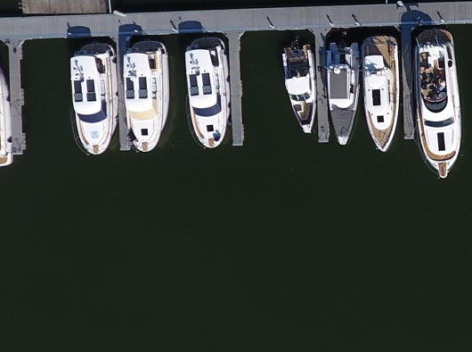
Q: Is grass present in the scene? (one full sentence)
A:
No, grass can't be seen anywhere here.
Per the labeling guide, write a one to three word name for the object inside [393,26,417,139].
pier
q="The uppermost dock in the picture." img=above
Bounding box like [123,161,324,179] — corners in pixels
[0,0,472,41]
